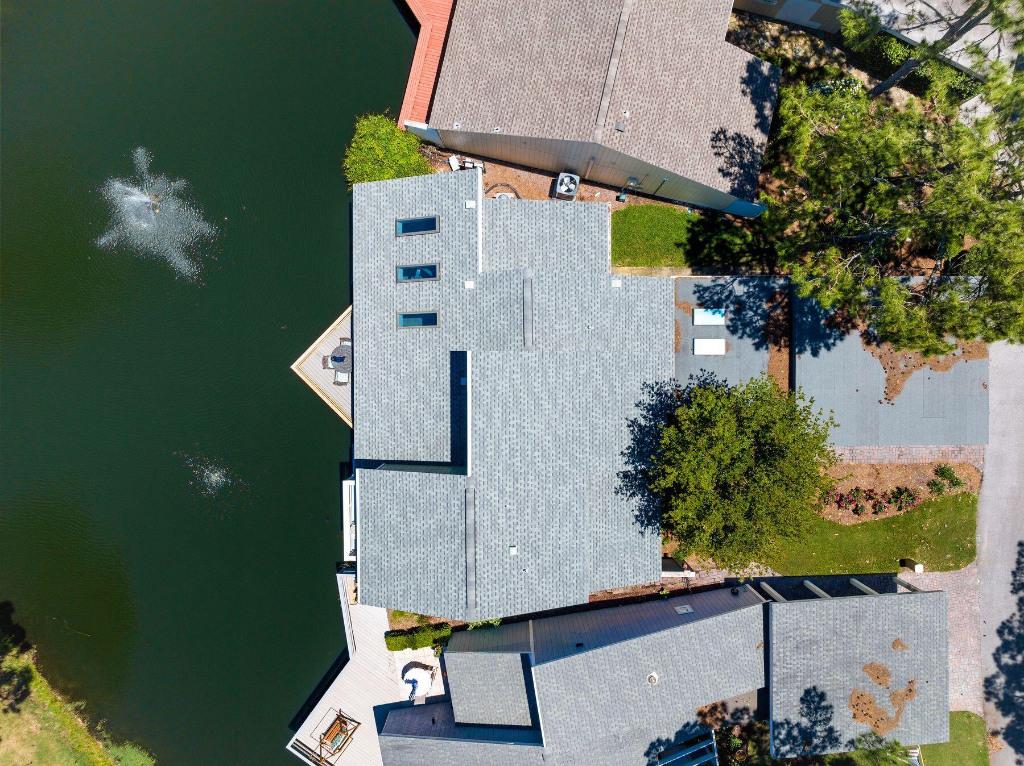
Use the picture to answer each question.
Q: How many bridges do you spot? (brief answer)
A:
zero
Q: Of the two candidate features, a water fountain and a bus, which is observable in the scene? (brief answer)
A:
water fountain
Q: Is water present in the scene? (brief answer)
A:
Yes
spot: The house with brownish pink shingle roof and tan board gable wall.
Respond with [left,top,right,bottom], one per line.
[403,0,784,218]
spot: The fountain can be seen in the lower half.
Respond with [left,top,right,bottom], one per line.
[181,456,240,501]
